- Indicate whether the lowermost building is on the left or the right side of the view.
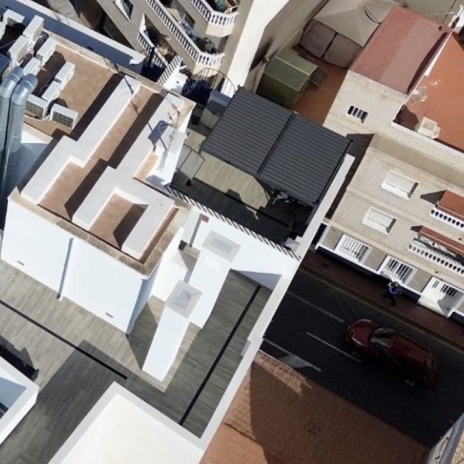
right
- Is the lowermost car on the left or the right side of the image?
right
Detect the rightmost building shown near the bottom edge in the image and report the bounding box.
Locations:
[423,414,464,464]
